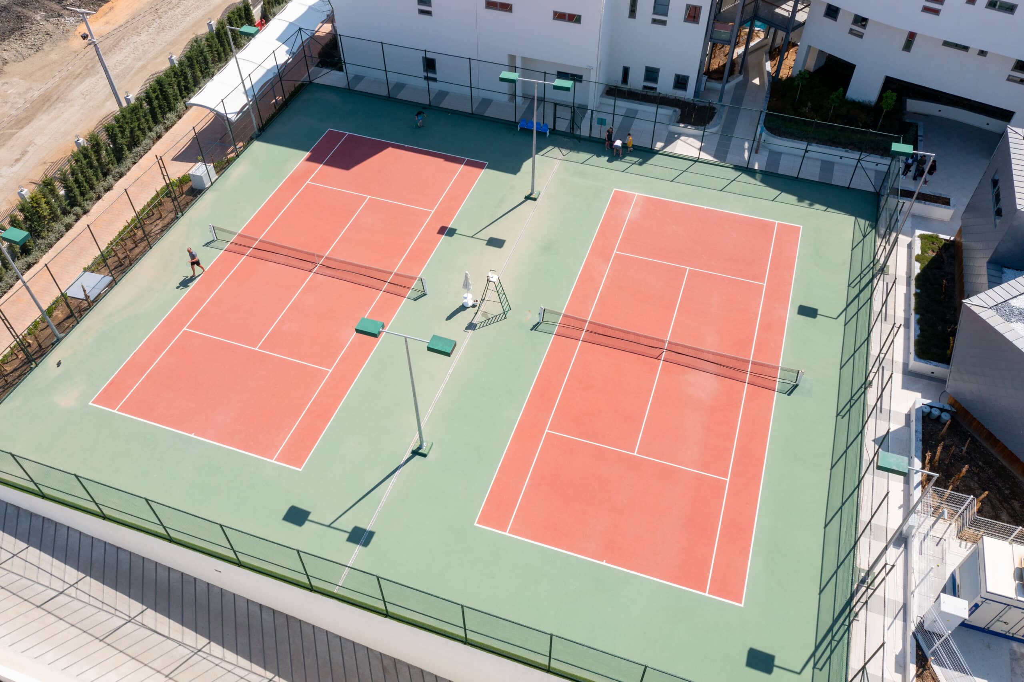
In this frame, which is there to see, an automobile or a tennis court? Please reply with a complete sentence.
It is a tennis court that can be seen here.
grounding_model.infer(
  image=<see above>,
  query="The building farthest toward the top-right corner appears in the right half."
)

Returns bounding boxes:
[792,0,1024,153]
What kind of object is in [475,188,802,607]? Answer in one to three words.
tennis court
